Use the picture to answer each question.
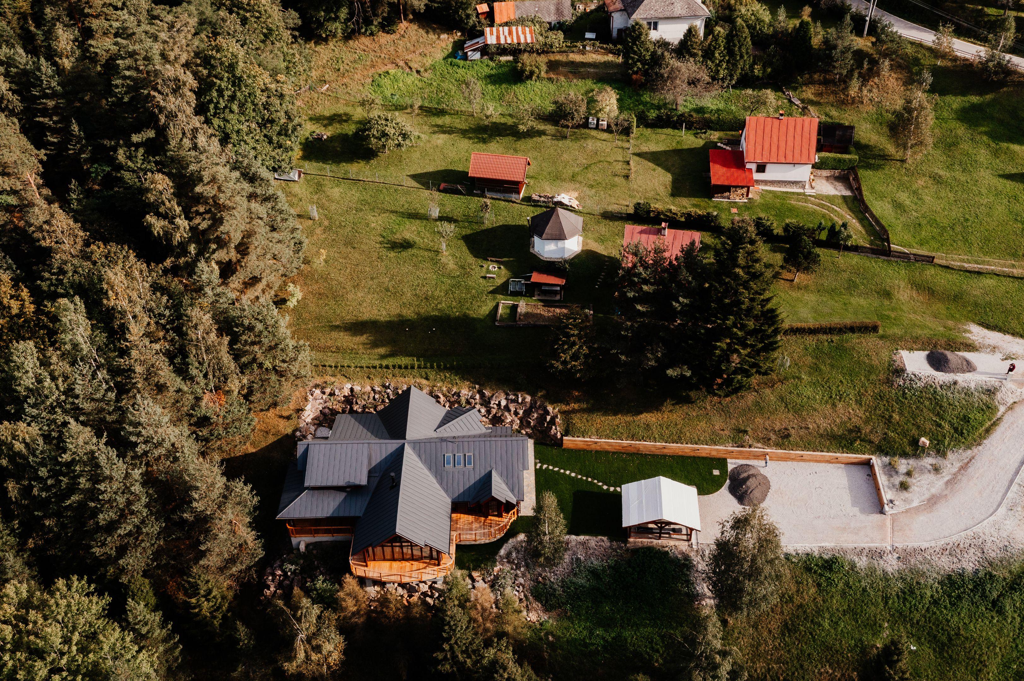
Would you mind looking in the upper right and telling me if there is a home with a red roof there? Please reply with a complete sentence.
Yes, I can see a home with a red roof in the upper right.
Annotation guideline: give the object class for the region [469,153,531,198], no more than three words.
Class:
barn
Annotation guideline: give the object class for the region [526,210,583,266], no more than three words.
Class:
house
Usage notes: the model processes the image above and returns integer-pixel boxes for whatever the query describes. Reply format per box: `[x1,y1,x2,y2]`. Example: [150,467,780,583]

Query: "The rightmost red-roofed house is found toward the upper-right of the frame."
[731,112,817,194]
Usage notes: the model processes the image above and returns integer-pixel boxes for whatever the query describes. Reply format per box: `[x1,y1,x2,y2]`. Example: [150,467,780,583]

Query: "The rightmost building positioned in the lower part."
[620,476,703,544]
